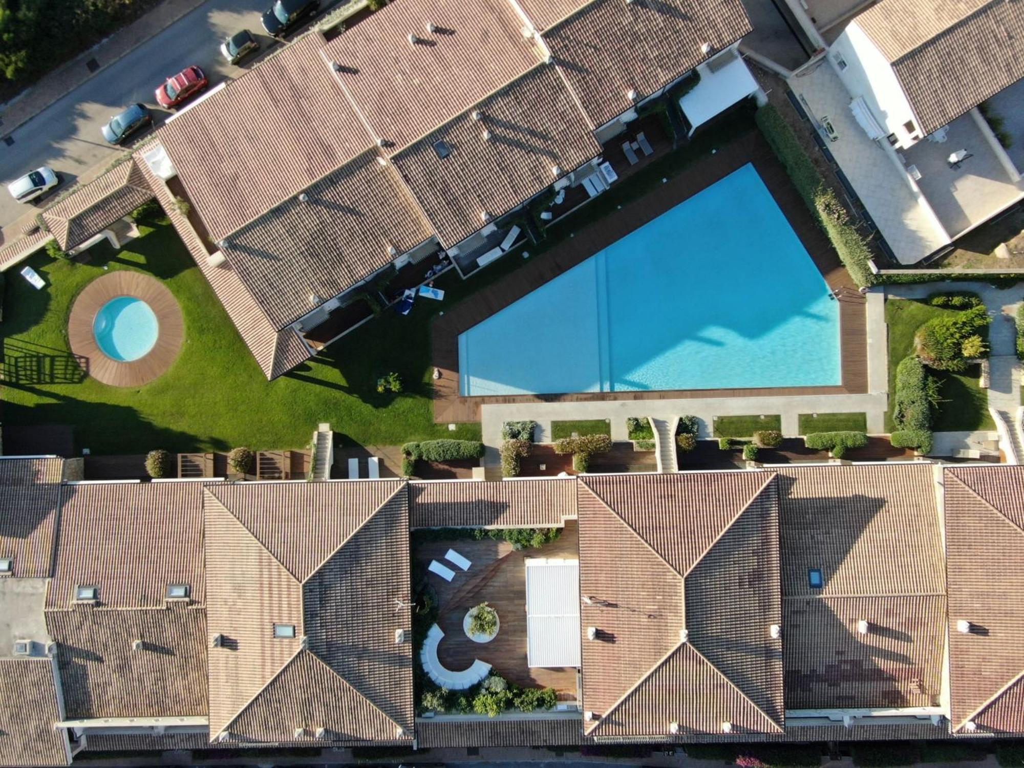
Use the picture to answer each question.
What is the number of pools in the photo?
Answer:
2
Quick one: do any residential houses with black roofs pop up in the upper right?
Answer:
No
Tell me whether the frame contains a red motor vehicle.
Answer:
Yes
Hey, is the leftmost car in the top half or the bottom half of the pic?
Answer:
top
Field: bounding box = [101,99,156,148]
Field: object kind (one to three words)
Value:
car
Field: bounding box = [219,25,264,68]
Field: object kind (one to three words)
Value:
car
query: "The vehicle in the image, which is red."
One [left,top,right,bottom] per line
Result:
[154,62,213,112]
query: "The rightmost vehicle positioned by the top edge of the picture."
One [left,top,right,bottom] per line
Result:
[262,0,327,41]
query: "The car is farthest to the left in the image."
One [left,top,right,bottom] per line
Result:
[2,165,62,207]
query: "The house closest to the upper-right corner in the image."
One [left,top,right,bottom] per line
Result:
[827,0,1024,154]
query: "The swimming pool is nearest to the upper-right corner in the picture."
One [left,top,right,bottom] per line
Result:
[458,163,843,397]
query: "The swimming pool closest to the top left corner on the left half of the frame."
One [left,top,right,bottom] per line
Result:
[91,294,161,363]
